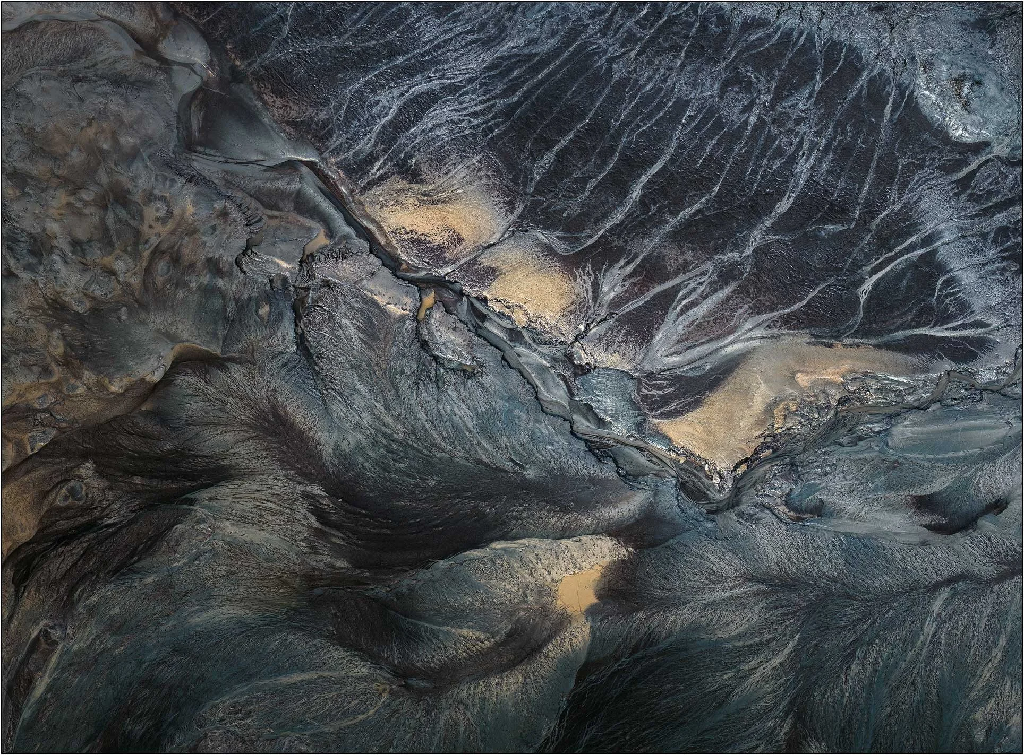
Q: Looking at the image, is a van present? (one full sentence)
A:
No, the picture doesn't show any van.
